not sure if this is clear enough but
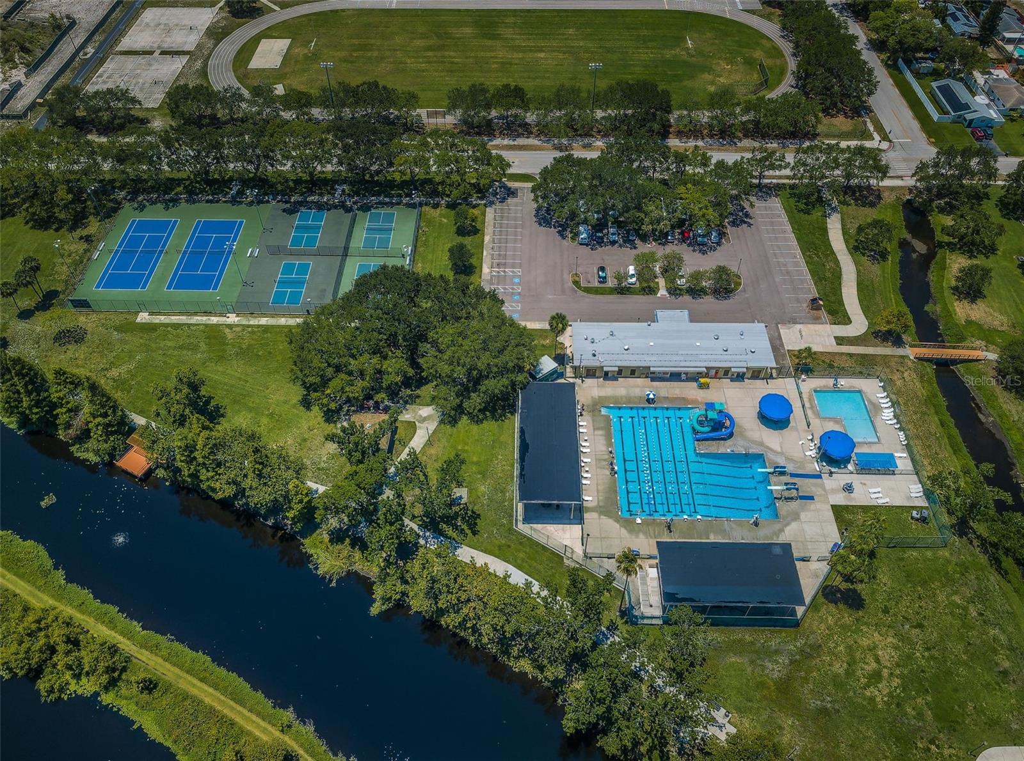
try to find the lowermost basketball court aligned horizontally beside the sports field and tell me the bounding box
[80,55,189,107]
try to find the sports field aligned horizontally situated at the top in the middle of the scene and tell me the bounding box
[233,8,788,110]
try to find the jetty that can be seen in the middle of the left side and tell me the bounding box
[115,431,165,477]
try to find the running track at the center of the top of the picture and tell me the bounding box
[206,0,813,125]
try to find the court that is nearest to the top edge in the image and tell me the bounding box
[116,7,219,50]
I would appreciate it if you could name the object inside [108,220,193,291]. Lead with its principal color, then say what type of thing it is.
blue tennis court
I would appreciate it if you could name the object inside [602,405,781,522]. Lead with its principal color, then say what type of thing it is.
blue swimming pool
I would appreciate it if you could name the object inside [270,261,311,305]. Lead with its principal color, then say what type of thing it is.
blue sports court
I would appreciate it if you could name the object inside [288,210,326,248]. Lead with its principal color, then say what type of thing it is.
blue sports court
